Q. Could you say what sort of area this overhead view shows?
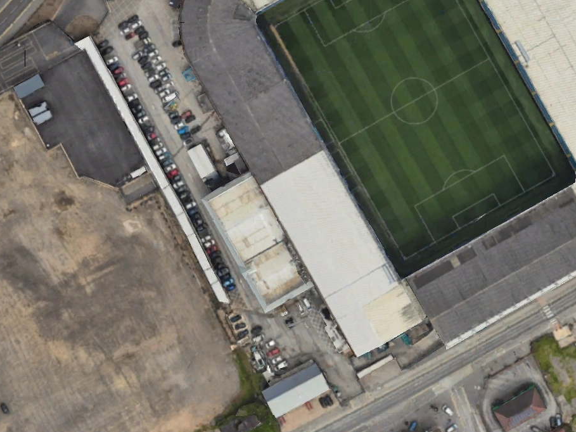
sports ground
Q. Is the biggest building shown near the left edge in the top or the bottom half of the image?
top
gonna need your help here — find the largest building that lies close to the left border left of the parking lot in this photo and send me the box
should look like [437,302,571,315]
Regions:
[14,75,45,97]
